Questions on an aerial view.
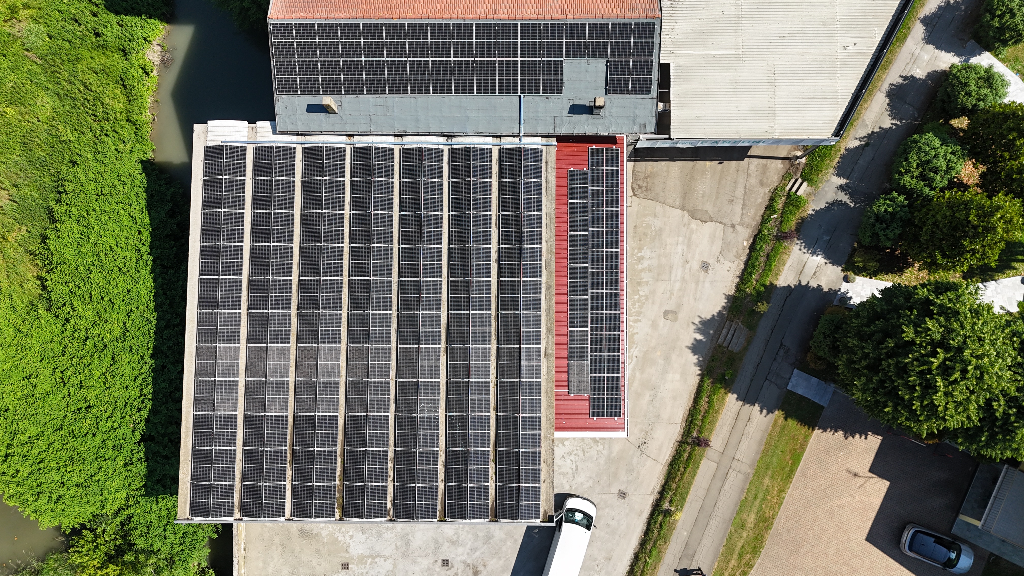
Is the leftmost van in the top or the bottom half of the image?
bottom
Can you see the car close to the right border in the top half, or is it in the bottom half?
bottom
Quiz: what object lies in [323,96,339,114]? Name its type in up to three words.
chimney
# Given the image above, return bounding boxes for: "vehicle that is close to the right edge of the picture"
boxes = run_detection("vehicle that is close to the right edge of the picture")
[895,523,973,573]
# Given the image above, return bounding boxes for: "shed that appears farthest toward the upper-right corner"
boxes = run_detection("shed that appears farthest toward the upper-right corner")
[656,0,915,162]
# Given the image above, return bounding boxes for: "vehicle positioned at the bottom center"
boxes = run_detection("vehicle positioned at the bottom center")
[543,492,597,576]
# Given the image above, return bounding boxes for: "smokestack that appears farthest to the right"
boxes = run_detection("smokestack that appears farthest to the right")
[591,97,606,116]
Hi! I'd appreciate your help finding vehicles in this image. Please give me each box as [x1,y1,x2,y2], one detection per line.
[895,523,973,573]
[543,492,597,576]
